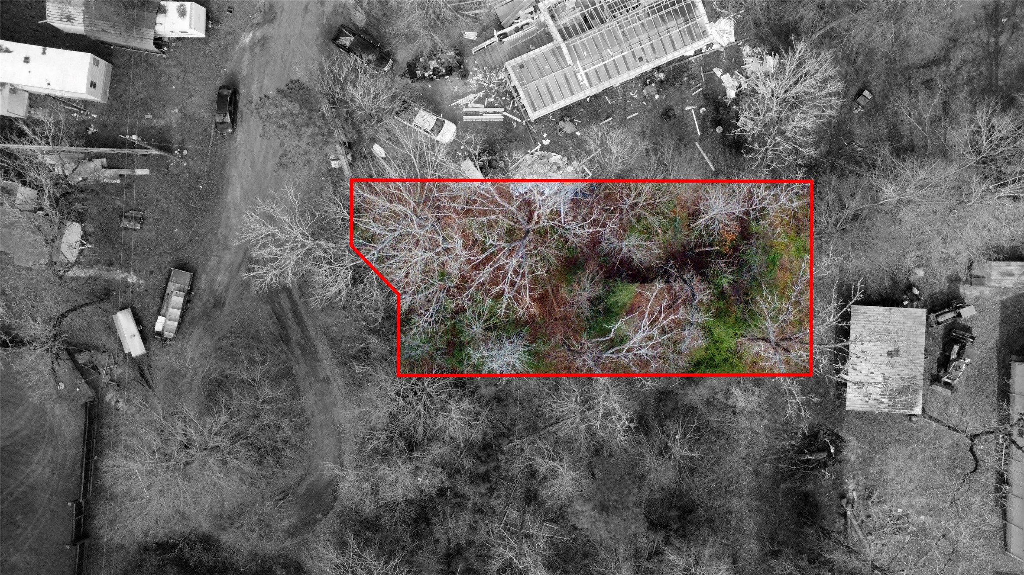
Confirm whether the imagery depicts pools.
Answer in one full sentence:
No, I can't see a single pool in this photo.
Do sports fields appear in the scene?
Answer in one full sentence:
No, the photo shows no sports field.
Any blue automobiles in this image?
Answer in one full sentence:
No, I can't see a single blue automobile in this photo.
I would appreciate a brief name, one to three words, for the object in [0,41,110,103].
house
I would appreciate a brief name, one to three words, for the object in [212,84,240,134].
car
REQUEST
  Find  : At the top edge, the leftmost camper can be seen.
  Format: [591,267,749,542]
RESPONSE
[154,1,208,37]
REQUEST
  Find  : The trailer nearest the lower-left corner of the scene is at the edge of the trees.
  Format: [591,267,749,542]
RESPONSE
[118,303,152,356]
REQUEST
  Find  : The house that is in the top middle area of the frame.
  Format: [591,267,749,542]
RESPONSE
[500,0,716,126]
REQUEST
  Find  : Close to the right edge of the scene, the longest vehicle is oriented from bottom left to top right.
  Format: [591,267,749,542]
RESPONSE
[923,331,989,402]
